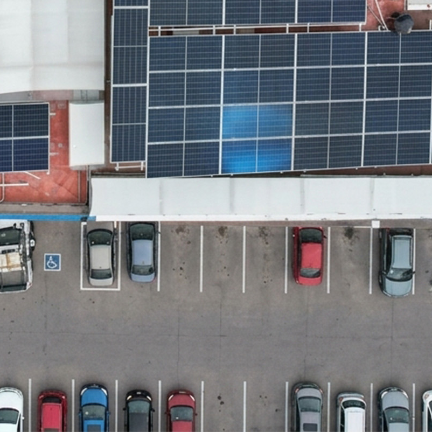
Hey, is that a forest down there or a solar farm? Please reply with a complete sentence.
This looks like a solar farm.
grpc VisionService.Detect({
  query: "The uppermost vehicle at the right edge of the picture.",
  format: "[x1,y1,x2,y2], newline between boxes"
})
[377,222,417,295]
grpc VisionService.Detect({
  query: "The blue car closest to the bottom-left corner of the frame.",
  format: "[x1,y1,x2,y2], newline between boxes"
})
[76,383,111,432]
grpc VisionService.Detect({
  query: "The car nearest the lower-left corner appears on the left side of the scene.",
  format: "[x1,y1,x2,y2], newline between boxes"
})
[0,385,25,432]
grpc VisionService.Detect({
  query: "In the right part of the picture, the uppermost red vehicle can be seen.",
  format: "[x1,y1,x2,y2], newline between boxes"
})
[289,222,327,284]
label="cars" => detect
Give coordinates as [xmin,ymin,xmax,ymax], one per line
[289,222,327,284]
[164,388,199,432]
[331,392,369,432]
[76,383,111,432]
[36,389,68,432]
[288,382,322,432]
[377,222,417,295]
[0,385,25,432]
[84,222,118,284]
[121,388,156,432]
[374,385,413,432]
[125,222,158,282]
